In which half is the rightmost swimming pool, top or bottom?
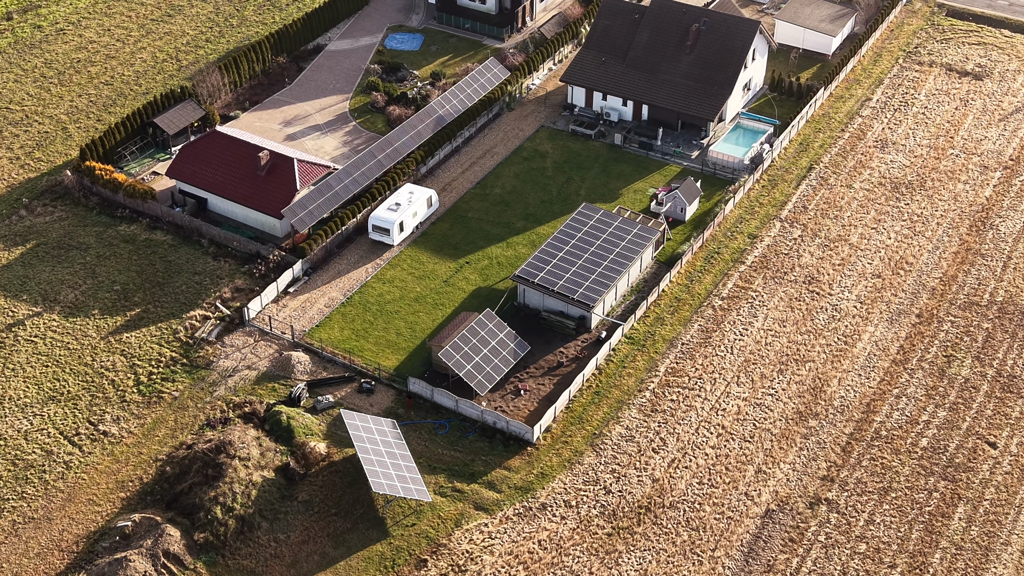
top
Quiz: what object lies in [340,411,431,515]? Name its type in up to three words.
solar array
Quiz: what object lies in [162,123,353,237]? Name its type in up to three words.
building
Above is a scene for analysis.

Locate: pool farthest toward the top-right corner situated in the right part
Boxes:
[707,113,774,170]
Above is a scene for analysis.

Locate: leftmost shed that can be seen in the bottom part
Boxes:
[425,318,474,377]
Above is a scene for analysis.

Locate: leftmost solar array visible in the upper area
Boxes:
[282,55,508,235]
